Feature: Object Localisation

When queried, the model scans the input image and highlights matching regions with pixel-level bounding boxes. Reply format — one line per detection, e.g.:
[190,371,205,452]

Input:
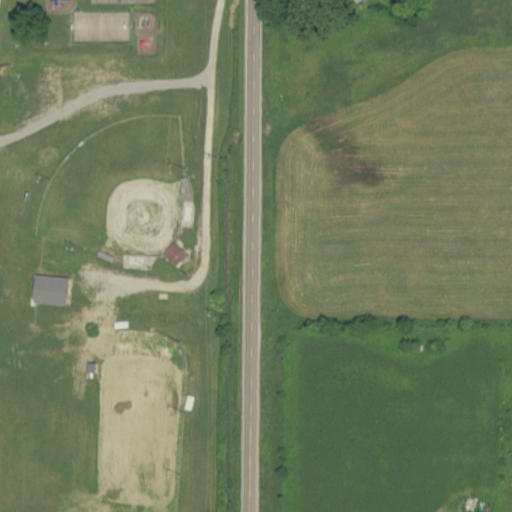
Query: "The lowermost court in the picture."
[74,12,130,42]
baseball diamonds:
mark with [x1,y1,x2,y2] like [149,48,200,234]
[106,178,182,253]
